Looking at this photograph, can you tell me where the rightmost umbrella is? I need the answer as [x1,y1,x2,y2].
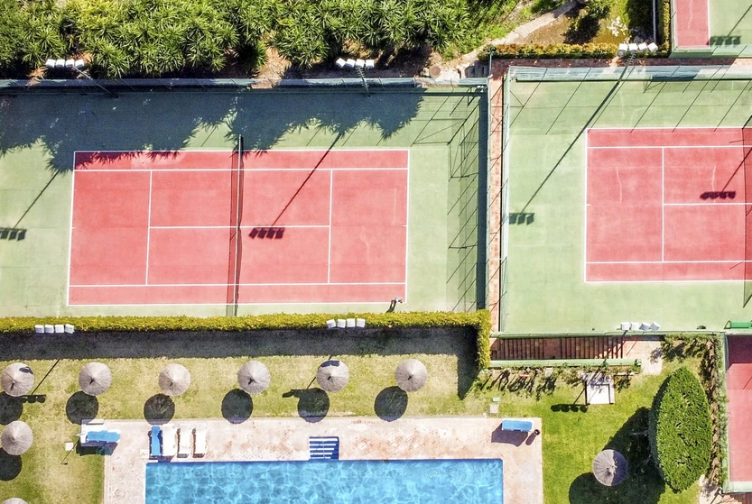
[592,449,627,485]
